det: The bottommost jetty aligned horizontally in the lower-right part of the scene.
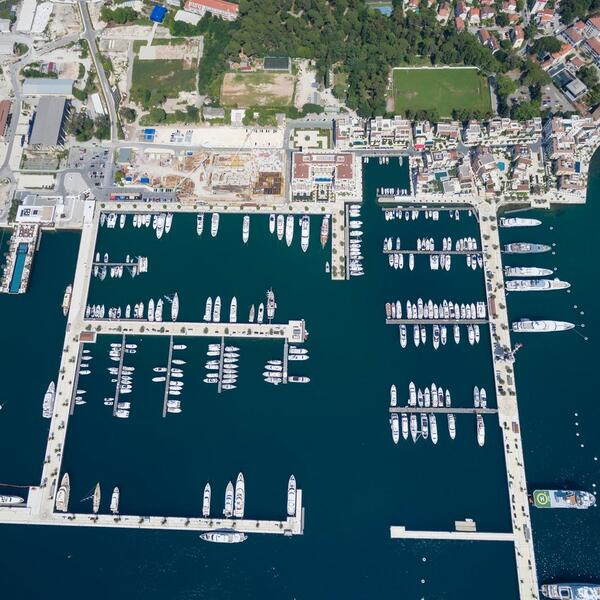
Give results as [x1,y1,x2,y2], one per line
[390,526,514,540]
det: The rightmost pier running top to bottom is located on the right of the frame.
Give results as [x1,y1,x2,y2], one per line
[479,215,540,600]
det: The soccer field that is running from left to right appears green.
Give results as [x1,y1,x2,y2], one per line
[391,69,493,115]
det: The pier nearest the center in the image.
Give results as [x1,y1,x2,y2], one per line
[288,320,305,343]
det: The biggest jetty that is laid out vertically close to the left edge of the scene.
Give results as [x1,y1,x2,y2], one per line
[27,211,98,513]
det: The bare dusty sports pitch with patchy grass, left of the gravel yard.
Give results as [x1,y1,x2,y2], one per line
[221,73,294,105]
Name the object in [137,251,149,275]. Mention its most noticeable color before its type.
white boat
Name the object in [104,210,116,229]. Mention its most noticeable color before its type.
white boat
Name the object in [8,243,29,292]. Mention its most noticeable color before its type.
blue swimming pool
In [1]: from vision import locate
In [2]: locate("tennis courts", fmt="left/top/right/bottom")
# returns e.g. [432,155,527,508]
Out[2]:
[369,1,395,16]
[263,57,290,70]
